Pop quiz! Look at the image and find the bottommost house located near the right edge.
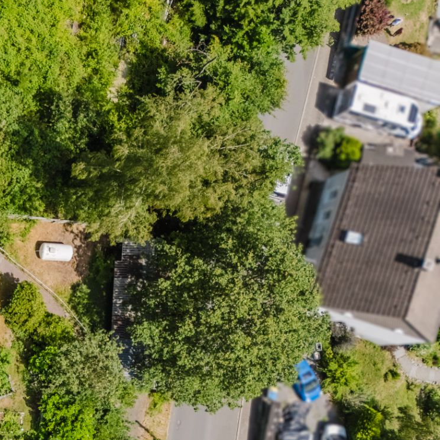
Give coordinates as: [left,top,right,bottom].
[296,164,440,340]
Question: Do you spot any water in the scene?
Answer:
No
